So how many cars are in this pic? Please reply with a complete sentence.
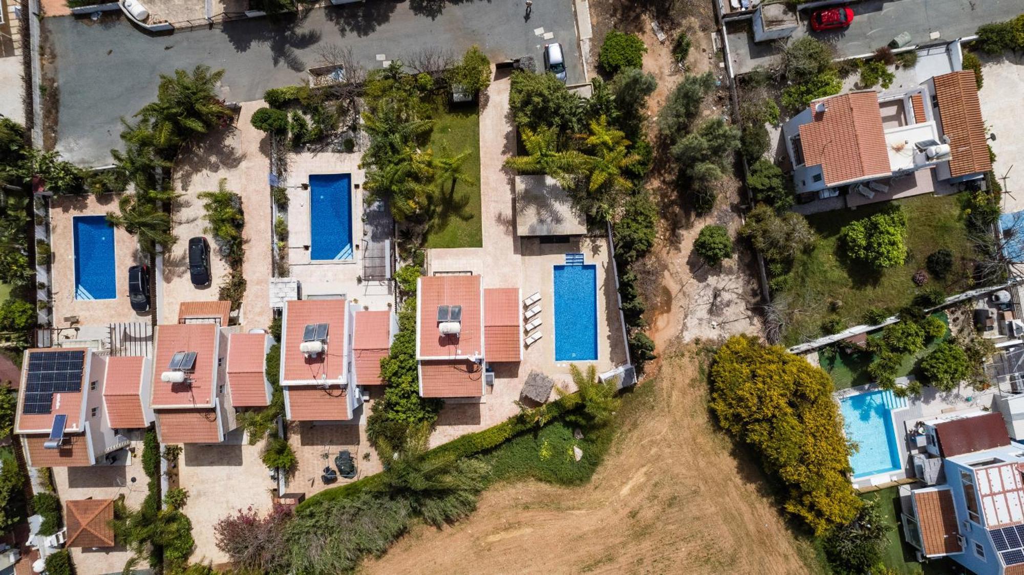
I count 4 cars.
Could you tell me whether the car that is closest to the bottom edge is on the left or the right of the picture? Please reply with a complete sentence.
The car that is closest to the bottom edge is on the left side of the image.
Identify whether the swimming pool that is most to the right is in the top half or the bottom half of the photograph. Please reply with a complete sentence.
The swimming pool that is most to the right is in the bottom half of the image.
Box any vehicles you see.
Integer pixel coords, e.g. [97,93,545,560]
[543,40,568,86]
[125,264,150,312]
[808,6,852,33]
[186,238,214,286]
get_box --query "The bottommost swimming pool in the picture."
[835,386,911,484]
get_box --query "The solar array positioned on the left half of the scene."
[23,351,85,414]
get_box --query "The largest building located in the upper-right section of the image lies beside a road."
[782,69,993,194]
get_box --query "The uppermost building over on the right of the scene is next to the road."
[753,4,800,43]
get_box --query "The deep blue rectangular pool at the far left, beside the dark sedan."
[71,214,118,301]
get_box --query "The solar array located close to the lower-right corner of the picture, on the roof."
[988,525,1024,556]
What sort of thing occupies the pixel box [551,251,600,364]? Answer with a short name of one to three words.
swimming pool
